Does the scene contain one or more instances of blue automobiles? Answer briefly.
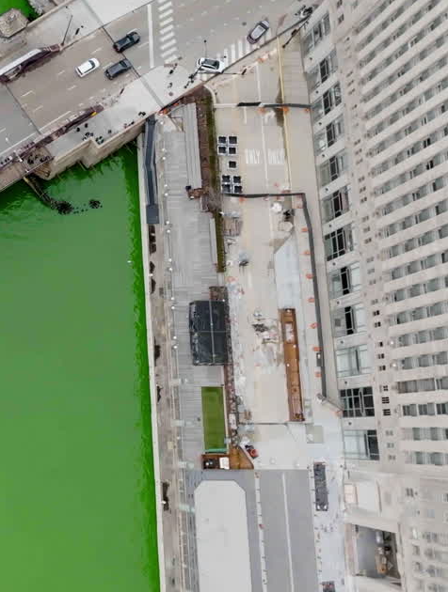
No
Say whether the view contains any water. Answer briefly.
Yes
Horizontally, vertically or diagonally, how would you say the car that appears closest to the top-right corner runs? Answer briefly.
diagonally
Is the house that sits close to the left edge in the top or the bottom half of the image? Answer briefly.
top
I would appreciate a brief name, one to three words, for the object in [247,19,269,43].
car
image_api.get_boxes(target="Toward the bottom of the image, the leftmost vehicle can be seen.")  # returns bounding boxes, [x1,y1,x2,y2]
[243,439,259,459]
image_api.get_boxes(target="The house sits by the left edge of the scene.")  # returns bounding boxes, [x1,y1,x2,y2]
[0,8,29,48]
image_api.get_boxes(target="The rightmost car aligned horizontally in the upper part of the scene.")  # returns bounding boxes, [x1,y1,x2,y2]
[196,59,223,72]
